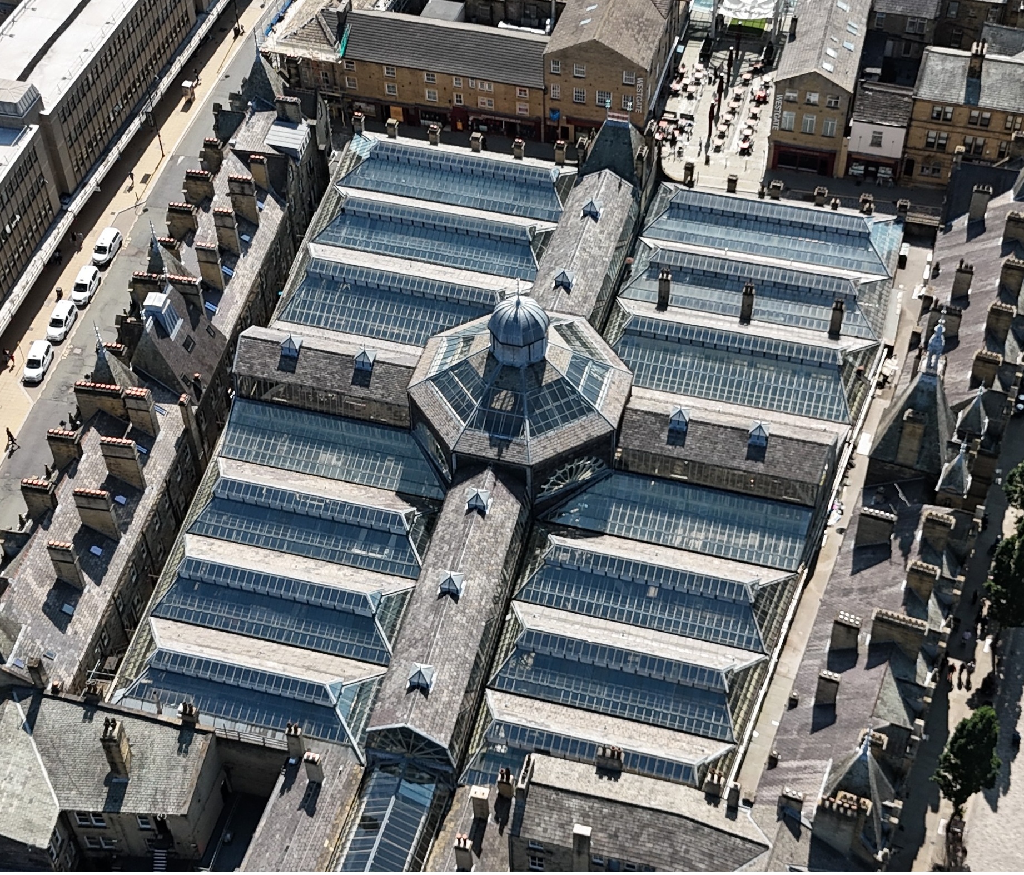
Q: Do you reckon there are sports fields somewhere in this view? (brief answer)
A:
No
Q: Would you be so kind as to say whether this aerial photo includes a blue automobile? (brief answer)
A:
No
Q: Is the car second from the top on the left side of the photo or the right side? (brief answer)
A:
left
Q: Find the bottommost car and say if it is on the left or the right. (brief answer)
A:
left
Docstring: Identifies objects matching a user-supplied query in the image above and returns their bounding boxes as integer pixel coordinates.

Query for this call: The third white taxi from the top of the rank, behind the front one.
[46,300,78,340]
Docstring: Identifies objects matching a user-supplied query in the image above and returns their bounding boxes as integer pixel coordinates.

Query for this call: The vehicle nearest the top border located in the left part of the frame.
[92,226,123,264]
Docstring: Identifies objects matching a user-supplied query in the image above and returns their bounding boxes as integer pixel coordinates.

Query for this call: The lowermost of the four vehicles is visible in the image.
[24,340,57,382]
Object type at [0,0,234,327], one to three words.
building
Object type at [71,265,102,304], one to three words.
car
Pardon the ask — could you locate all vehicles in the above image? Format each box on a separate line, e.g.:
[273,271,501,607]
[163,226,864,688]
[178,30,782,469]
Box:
[92,226,123,264]
[24,340,57,382]
[71,265,102,304]
[46,300,78,340]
